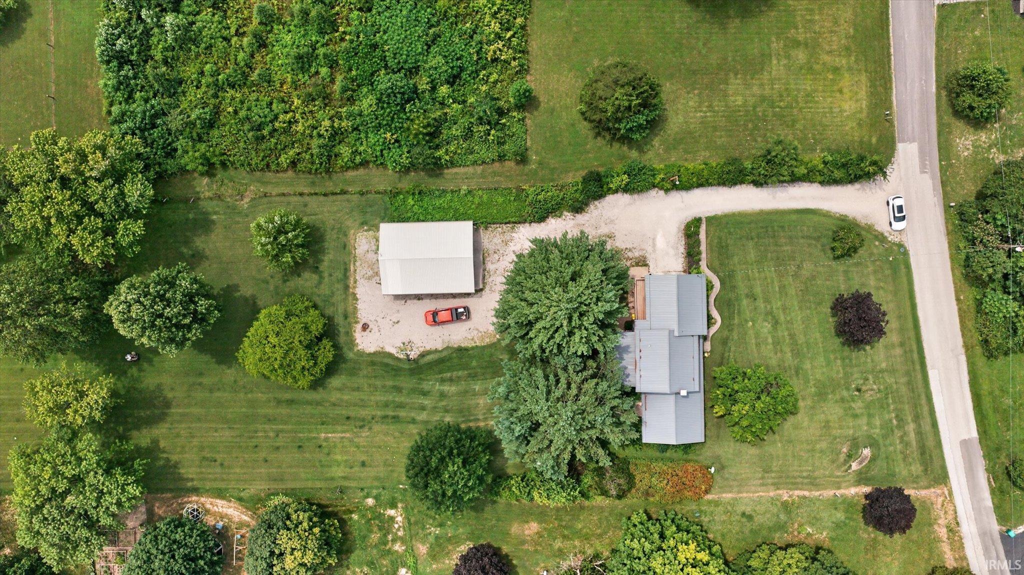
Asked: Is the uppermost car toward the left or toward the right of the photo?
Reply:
right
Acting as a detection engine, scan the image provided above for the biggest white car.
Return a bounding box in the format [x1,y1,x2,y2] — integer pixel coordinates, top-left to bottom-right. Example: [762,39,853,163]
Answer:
[885,197,908,231]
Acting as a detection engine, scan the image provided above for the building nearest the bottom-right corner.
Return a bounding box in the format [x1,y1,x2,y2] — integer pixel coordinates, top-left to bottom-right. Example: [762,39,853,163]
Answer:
[614,273,707,444]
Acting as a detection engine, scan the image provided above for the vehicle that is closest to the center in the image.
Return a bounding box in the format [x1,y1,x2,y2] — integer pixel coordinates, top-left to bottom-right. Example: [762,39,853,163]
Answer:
[424,305,472,327]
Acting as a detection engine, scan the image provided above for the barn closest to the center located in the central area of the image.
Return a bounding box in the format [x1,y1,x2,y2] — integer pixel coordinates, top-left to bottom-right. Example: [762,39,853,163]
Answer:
[378,220,482,296]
